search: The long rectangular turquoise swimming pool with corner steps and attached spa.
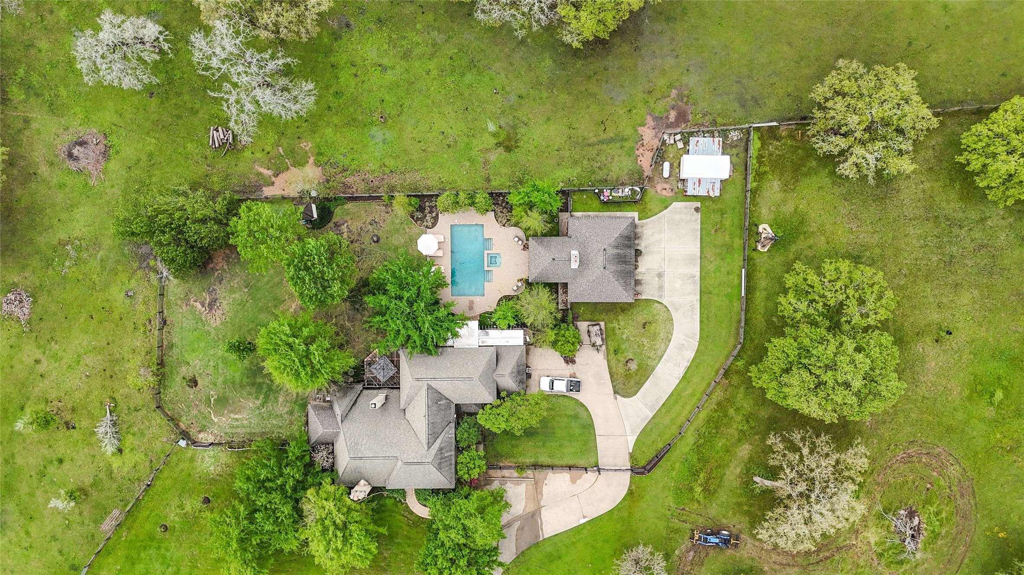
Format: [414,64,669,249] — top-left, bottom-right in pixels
[449,223,505,298]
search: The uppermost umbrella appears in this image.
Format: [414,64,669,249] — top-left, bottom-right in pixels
[418,235,438,255]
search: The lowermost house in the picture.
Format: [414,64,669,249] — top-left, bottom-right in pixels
[308,345,526,502]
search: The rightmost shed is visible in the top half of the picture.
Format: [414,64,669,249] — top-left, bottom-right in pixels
[680,136,732,196]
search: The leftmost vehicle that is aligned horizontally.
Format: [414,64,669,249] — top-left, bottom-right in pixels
[539,377,582,394]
